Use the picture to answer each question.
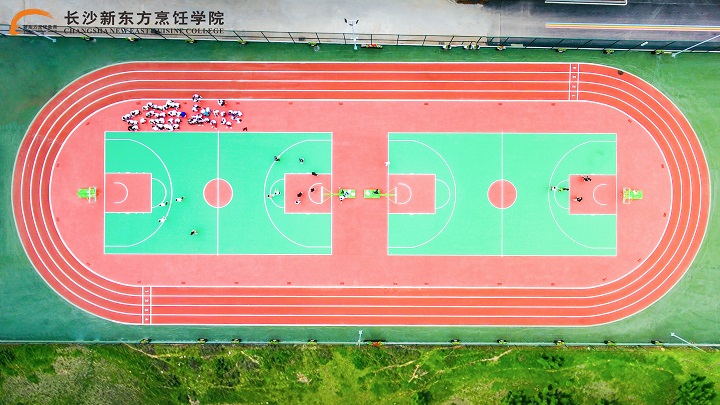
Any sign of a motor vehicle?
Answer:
No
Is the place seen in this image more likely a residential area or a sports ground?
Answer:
sports ground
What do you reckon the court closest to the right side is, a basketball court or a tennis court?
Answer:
basketball court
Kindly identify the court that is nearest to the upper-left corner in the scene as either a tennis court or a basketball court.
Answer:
basketball court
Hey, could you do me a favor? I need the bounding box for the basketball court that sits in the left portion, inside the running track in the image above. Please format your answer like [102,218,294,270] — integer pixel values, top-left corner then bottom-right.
[104,130,333,255]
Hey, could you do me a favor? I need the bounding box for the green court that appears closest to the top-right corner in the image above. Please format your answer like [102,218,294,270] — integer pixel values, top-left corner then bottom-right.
[388,131,617,256]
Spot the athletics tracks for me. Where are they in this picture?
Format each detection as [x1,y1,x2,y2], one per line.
[12,62,710,326]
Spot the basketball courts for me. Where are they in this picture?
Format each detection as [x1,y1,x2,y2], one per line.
[388,131,617,256]
[104,130,333,255]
